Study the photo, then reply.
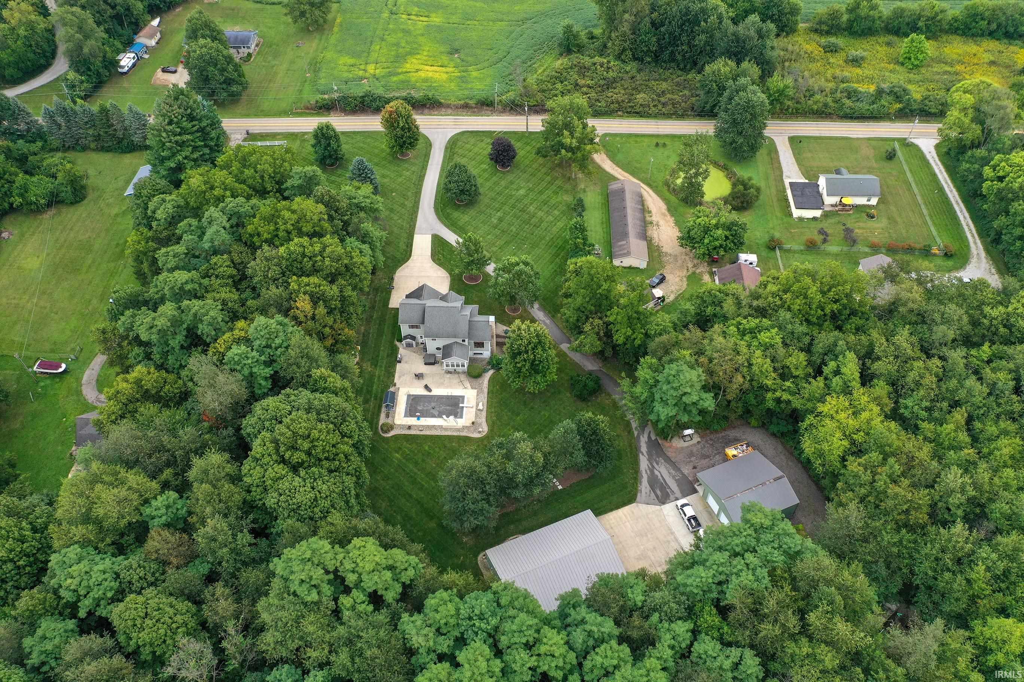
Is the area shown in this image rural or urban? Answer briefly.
rural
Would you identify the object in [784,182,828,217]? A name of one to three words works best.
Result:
building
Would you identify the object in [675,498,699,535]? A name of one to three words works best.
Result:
truck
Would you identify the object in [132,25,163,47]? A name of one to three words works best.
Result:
building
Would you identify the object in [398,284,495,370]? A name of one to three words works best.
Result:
house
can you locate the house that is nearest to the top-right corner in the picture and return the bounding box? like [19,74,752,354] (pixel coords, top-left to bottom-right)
[812,164,881,204]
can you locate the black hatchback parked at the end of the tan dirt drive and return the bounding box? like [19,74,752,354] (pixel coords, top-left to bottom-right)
[648,270,668,286]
